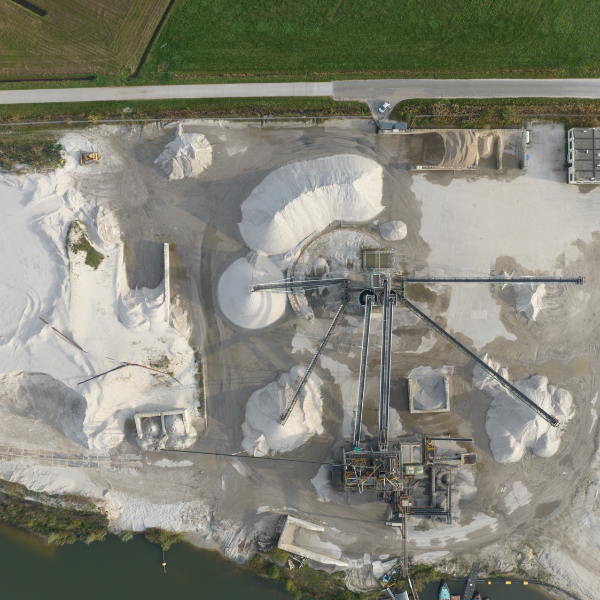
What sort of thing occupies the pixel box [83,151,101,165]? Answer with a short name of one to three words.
vehicle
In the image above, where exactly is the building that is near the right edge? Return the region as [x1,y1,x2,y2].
[567,127,600,183]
